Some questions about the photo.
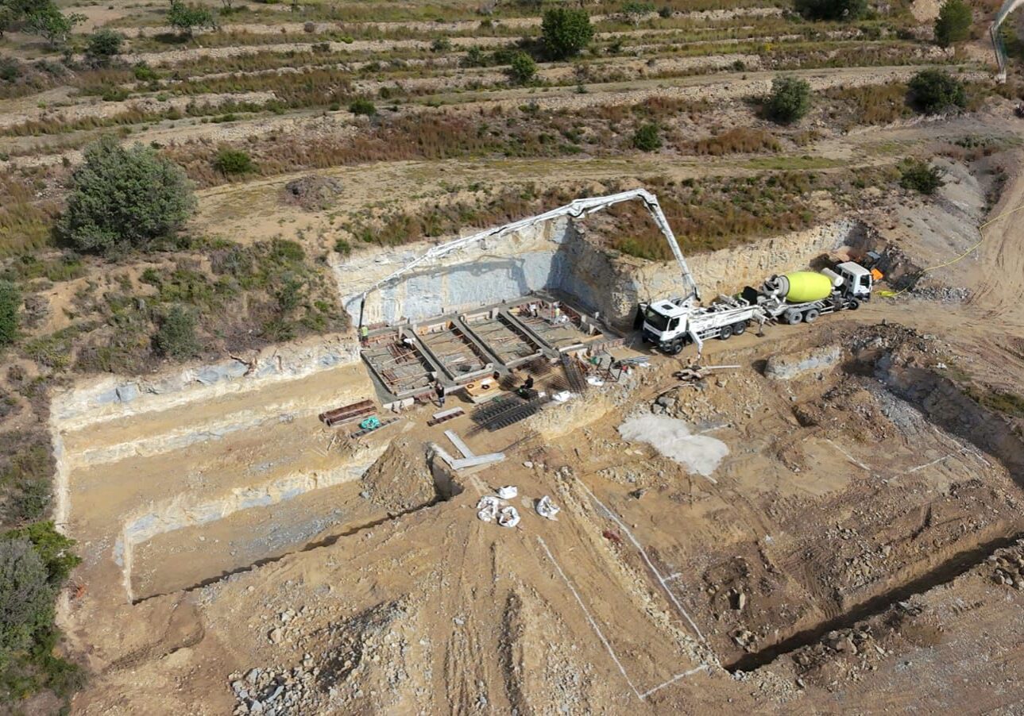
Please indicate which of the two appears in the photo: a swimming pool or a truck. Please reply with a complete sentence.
Looking from above, you can make out a truck.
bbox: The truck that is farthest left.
[359,187,771,362]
